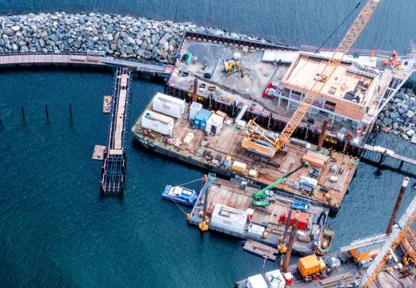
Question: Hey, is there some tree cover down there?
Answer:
No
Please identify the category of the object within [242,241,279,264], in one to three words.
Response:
pier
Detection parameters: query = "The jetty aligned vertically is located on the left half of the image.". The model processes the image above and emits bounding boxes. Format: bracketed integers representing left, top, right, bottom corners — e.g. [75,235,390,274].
[102,64,134,201]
